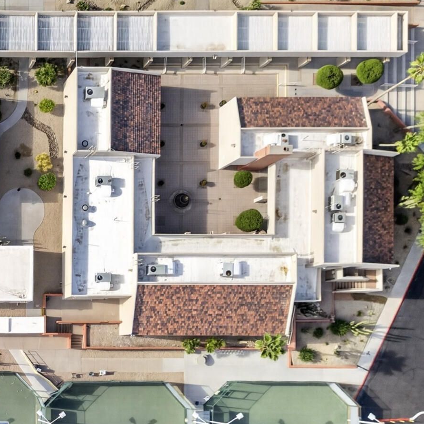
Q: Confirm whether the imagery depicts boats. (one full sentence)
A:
No, no boat is visible in the scene.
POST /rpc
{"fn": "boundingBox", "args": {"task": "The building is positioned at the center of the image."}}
[60,67,402,337]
